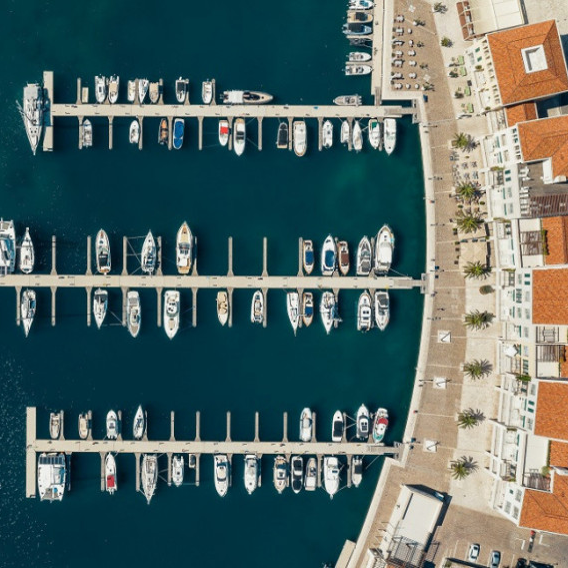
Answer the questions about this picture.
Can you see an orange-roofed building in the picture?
Yes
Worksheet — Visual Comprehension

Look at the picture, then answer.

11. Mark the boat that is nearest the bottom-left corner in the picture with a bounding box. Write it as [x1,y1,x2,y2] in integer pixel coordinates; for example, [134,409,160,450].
[38,452,65,507]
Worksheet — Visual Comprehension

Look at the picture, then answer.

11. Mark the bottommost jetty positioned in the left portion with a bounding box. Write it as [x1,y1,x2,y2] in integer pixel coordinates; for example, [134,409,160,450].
[26,406,384,498]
